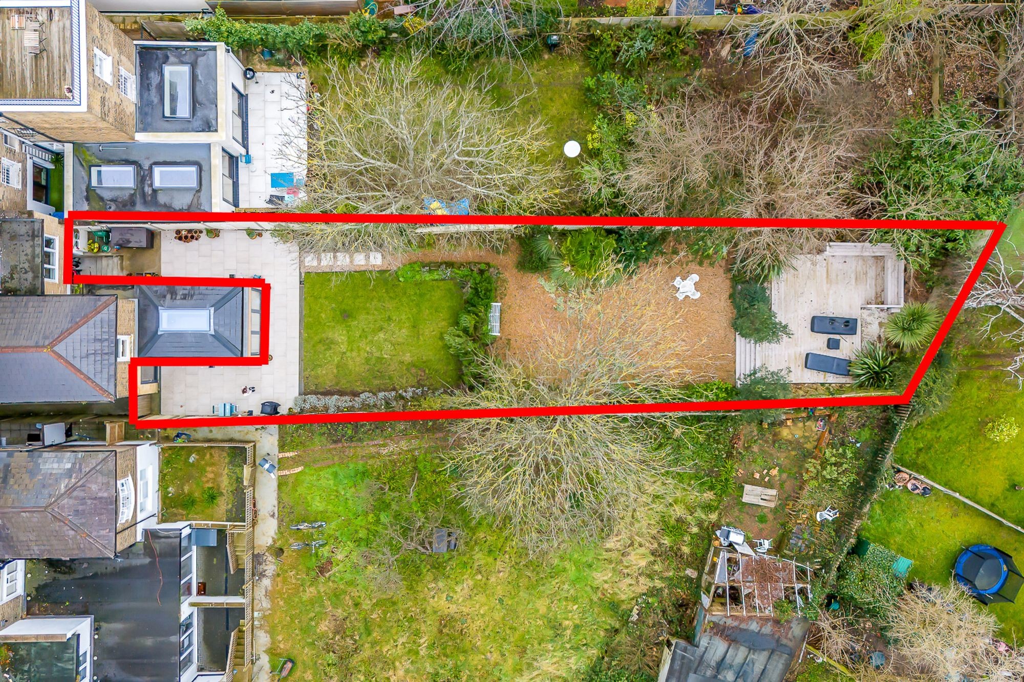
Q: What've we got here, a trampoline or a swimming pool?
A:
trampoline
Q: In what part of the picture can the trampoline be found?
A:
bottom right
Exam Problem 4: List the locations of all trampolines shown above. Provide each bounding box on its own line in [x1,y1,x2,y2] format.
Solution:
[951,542,1023,602]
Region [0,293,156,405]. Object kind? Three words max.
house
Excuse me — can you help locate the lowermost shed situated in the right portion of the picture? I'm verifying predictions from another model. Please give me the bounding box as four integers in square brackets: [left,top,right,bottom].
[660,610,814,682]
